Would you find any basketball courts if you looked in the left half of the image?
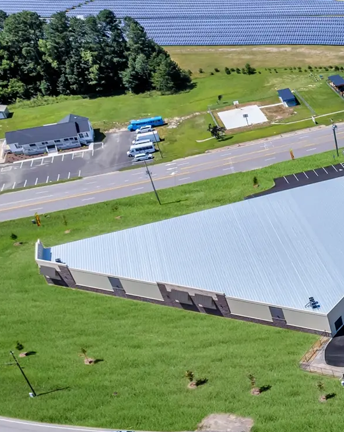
No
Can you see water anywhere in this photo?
No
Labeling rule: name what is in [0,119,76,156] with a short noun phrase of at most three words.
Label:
building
